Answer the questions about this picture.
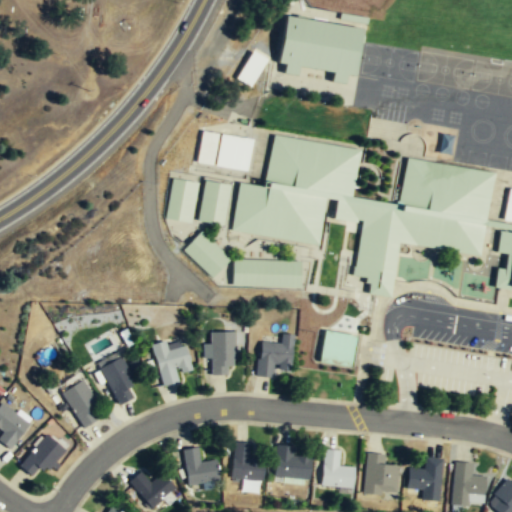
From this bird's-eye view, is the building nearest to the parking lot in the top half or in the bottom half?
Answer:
bottom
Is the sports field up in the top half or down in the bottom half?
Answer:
top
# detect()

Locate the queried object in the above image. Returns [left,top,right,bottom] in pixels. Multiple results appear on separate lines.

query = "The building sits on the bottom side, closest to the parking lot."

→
[322,330,359,368]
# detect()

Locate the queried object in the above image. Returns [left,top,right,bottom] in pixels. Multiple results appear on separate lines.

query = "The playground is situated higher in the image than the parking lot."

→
[398,257,496,302]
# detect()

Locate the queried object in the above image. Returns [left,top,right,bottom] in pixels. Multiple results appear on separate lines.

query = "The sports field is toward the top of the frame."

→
[364,0,512,60]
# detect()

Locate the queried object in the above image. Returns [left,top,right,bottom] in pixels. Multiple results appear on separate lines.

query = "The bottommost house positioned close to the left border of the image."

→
[20,436,66,476]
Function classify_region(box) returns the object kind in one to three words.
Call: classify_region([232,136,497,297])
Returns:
building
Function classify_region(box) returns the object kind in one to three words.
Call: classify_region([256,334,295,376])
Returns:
house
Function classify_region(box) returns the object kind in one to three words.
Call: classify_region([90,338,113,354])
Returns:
swimming pool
